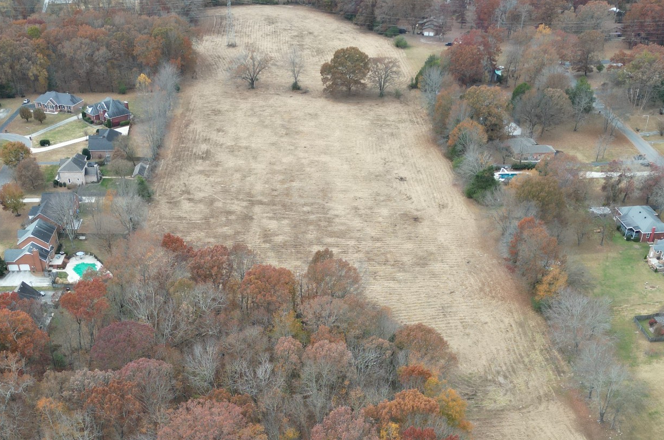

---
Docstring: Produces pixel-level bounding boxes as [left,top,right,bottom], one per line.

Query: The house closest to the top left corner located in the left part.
[31,90,84,111]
